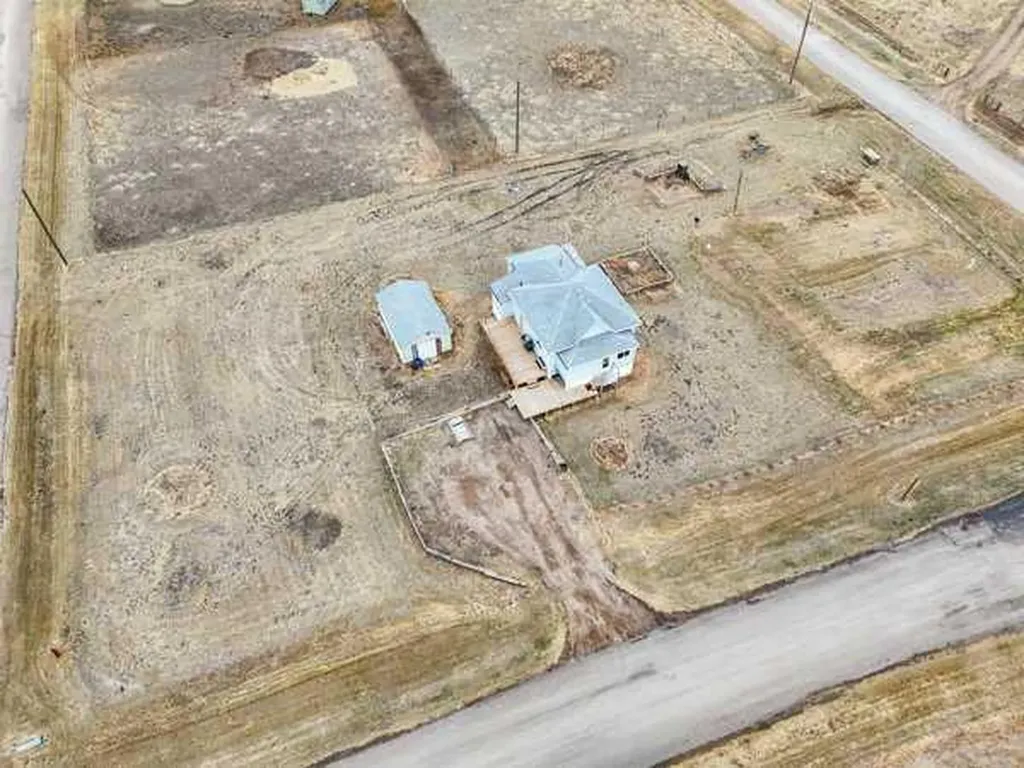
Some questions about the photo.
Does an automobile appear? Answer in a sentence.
No, the photo shows no automobile.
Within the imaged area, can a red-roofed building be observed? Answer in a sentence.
No, I can see no red-roofed building in this picture.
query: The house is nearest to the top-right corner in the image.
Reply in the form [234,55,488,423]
[488,241,645,387]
